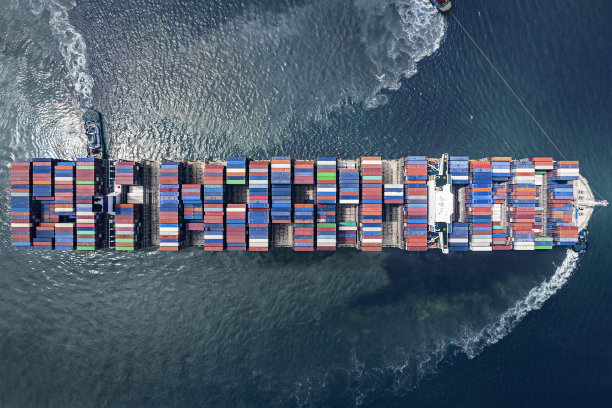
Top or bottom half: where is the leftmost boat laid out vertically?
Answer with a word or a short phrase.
top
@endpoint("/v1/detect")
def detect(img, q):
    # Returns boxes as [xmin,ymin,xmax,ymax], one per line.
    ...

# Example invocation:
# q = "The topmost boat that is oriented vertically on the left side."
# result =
[84,106,106,159]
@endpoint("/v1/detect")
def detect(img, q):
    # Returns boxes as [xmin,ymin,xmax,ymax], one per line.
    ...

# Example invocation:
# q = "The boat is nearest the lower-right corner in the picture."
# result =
[570,225,592,253]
